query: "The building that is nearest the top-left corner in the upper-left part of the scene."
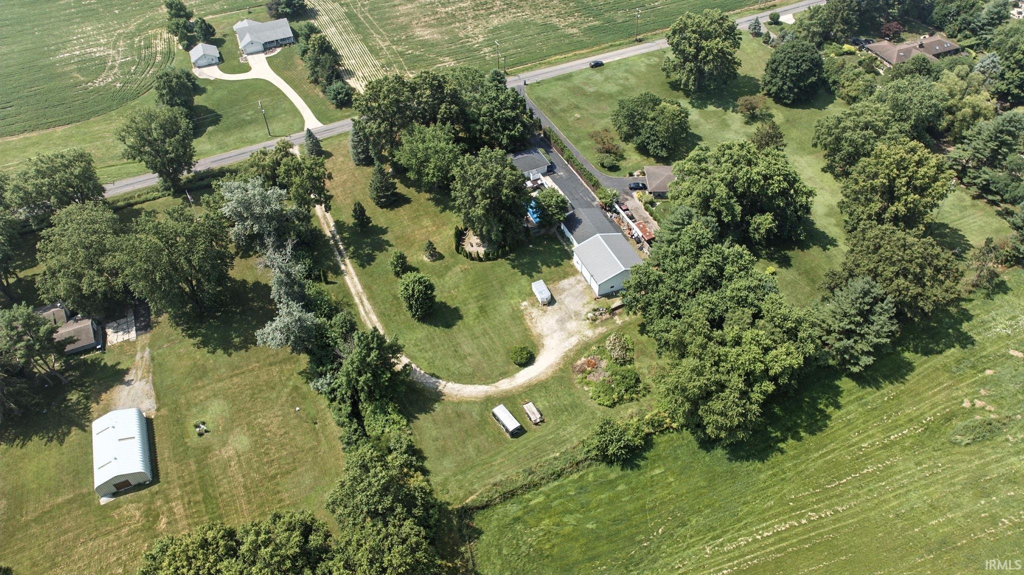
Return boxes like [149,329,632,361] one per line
[190,41,218,66]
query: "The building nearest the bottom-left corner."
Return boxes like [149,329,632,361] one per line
[92,410,152,496]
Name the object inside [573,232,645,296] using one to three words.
building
